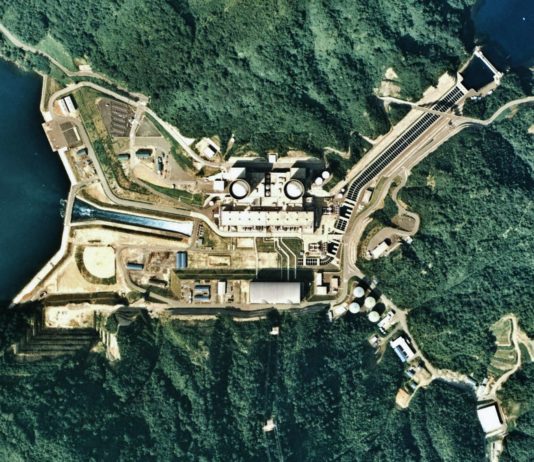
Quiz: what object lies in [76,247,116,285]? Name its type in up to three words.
sports field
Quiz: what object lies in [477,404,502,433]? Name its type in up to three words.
building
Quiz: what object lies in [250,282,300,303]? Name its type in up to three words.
building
